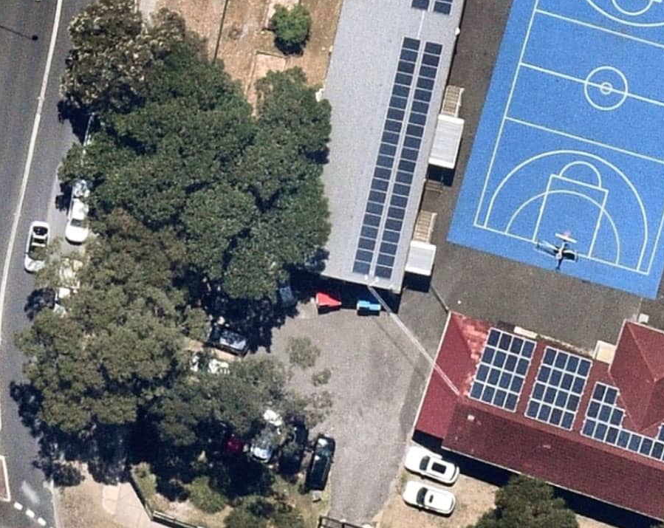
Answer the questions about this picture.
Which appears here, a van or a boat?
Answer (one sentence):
Of the two, only a van appears.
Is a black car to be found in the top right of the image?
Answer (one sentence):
No, I can find no black car in the top right of the image.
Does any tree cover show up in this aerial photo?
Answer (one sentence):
Yes, some tree cover is visible.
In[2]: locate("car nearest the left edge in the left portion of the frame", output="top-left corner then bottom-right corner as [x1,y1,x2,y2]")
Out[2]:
[23,221,50,273]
